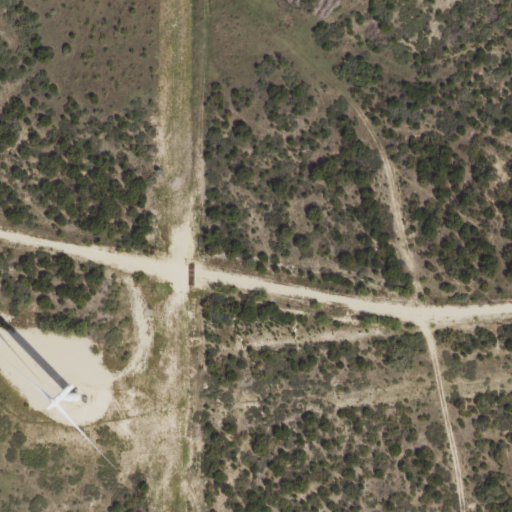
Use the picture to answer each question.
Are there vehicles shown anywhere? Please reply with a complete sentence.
No, there isn't any vehicle down there.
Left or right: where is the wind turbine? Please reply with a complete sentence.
It is on the left.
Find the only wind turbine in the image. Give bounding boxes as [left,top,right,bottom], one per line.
[0,354,112,468]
